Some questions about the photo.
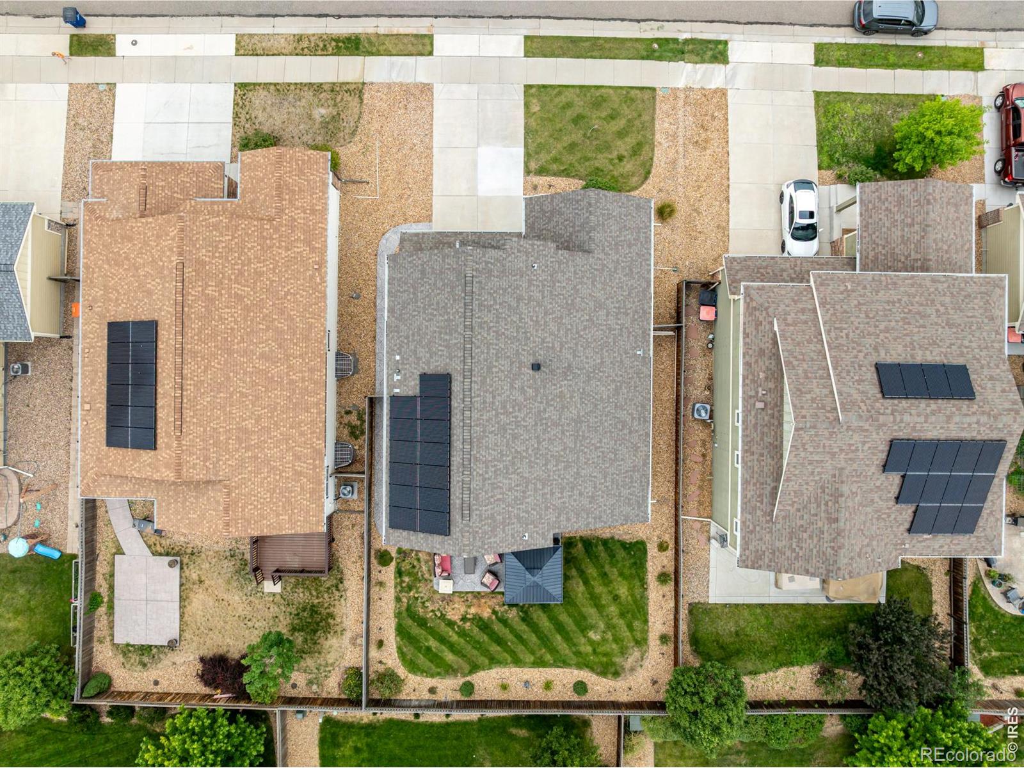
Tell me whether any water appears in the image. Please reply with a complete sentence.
No, there is no water in the image.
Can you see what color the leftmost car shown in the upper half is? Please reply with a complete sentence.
The leftmost car shown in the upper half is white.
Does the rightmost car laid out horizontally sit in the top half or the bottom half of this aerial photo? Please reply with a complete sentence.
It is in the top half that the rightmost car laid out horizontally appears.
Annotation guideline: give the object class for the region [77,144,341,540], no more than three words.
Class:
house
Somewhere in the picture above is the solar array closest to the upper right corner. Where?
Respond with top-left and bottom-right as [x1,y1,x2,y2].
[876,363,976,401]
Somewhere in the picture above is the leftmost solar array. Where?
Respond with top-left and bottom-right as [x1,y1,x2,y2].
[106,319,157,451]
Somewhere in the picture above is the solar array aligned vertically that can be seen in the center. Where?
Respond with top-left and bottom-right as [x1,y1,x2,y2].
[389,374,451,537]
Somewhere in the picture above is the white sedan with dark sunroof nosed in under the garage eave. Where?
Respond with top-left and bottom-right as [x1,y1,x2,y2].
[780,179,825,254]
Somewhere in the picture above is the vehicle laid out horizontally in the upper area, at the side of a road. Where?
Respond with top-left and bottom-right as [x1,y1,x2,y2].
[856,0,943,38]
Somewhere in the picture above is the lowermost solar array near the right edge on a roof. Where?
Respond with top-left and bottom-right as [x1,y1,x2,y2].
[884,439,1006,535]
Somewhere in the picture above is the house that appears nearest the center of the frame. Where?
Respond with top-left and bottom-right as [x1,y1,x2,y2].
[382,190,657,554]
